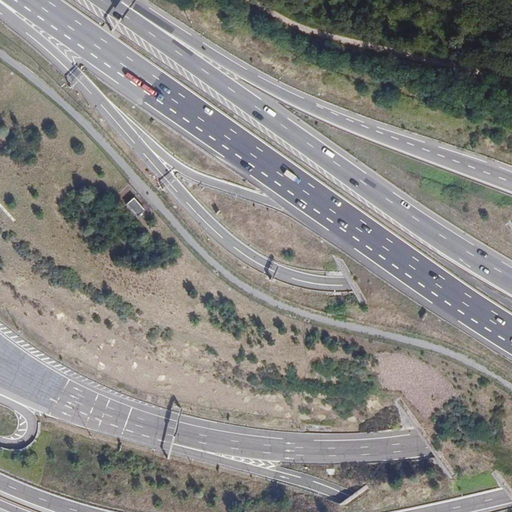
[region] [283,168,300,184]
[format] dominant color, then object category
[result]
white vehicle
